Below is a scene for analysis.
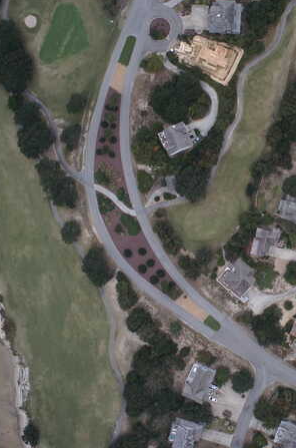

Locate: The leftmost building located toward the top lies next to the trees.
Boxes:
[159,120,200,155]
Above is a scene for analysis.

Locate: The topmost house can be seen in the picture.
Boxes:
[210,1,240,34]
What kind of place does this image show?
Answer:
golf course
